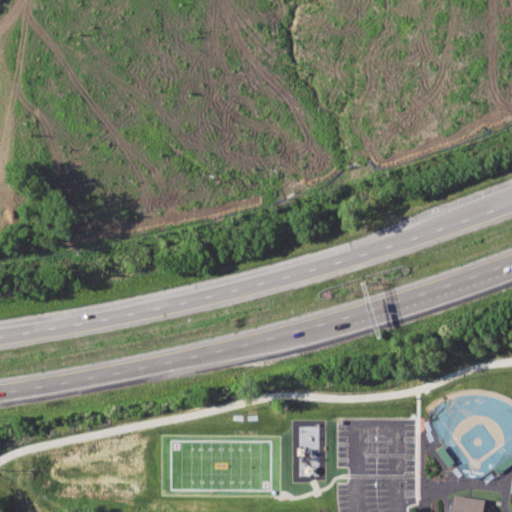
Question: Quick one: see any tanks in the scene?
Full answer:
No, I can see no tank in this picture.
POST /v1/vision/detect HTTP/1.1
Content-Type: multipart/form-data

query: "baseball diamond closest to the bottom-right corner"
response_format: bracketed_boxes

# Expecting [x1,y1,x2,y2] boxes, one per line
[426,390,512,479]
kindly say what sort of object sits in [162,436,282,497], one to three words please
sports field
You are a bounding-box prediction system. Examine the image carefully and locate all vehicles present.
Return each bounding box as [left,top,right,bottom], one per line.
[342,421,352,426]
[502,266,512,274]
[81,314,94,320]
[294,332,304,338]
[336,324,348,330]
